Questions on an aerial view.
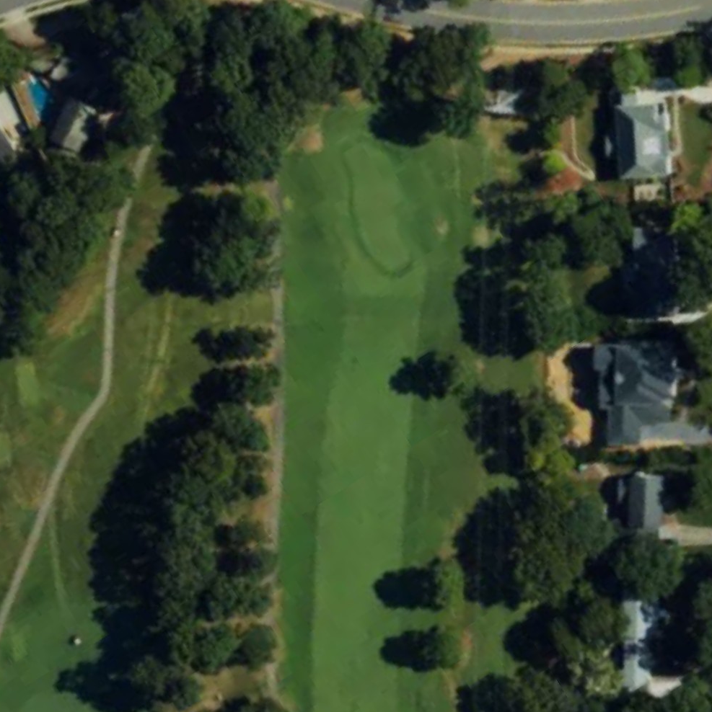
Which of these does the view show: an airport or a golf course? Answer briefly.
golf course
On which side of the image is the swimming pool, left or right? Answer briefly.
left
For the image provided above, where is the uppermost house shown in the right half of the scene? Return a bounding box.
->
[481,88,524,116]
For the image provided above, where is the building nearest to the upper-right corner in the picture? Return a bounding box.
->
[615,104,674,180]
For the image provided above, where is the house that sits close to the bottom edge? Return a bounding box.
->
[620,599,657,693]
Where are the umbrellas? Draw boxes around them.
[52,63,66,78]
